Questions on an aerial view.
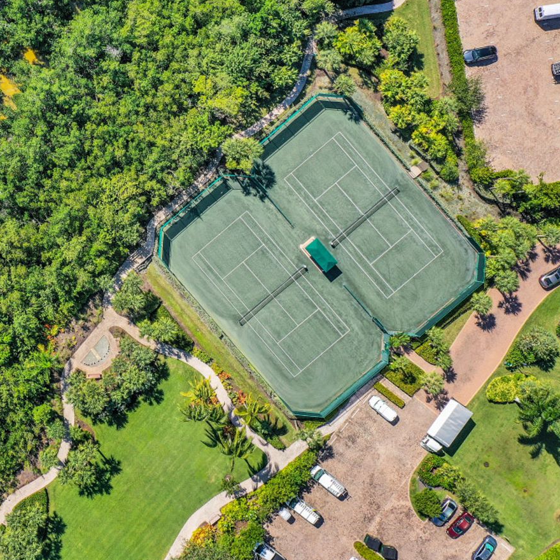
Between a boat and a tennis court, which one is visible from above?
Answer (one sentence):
Visible in the photo is a tennis court.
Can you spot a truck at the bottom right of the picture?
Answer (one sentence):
Yes, at the bottom right of the picture there is a truck.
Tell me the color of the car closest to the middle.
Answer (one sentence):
The car closest to the middle looks white in the image.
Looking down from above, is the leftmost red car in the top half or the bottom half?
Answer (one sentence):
You can find the leftmost red car in the bottom half.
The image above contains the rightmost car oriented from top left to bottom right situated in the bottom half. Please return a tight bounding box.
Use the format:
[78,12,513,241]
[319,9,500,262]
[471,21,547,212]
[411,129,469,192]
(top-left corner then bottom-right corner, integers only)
[368,396,399,423]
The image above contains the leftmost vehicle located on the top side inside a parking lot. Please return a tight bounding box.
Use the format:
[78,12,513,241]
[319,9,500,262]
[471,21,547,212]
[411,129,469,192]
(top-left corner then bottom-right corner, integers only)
[463,46,498,62]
